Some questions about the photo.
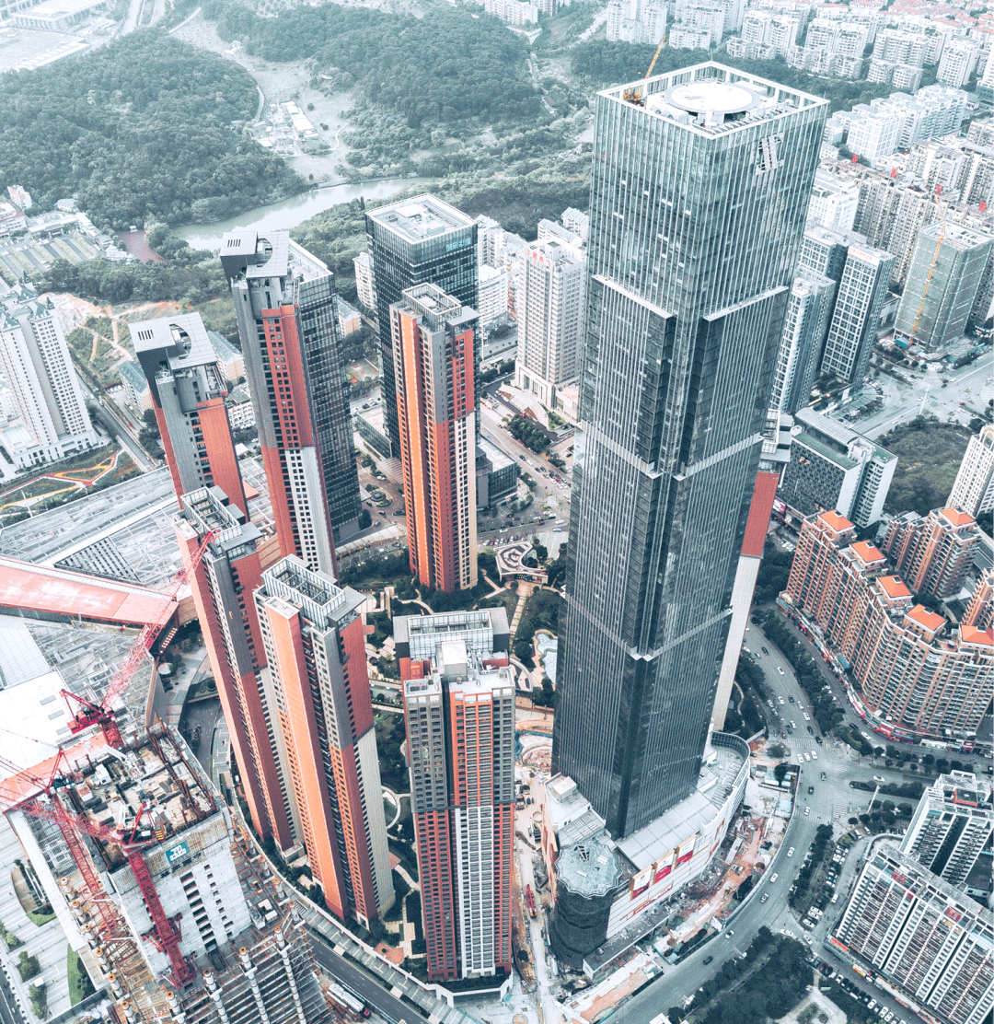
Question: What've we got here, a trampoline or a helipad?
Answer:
helipad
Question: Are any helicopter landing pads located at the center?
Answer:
No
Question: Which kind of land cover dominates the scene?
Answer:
buildings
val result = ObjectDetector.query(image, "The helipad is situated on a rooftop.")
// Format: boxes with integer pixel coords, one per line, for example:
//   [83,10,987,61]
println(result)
[665,82,762,130]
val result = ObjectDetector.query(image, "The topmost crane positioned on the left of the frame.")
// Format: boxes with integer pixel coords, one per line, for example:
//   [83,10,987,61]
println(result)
[89,577,192,762]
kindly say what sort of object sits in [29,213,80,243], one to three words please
building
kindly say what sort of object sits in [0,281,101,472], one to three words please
building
